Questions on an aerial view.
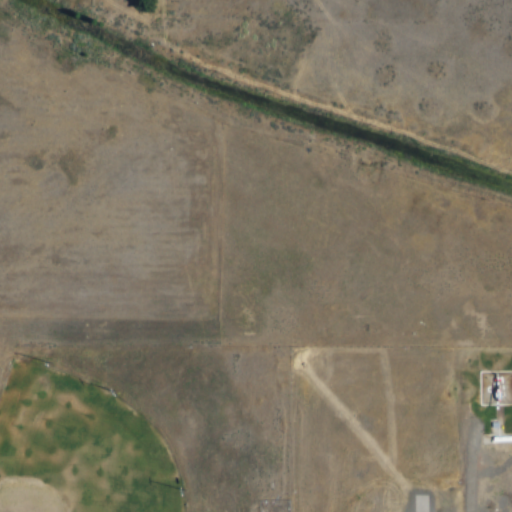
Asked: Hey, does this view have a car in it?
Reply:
No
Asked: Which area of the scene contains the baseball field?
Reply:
bottom left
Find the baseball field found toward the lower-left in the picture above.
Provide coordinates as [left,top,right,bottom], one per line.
[0,354,184,512]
